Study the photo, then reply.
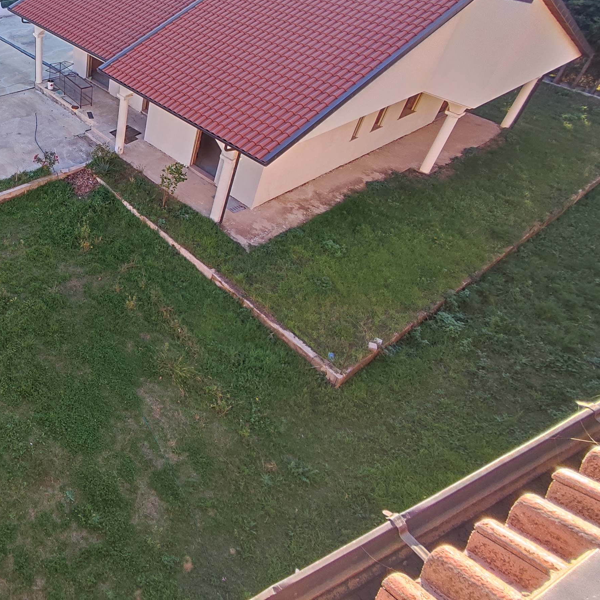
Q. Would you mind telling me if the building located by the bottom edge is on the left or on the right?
right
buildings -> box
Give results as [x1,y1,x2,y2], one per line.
[233,395,600,600]
[2,0,600,255]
